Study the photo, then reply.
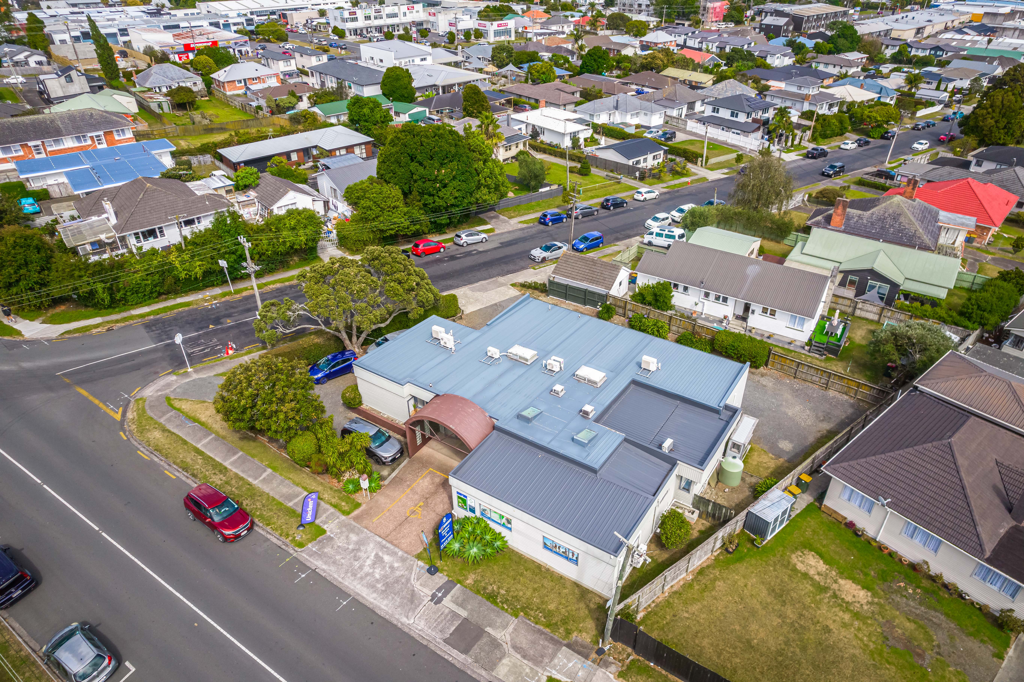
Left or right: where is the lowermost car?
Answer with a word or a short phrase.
left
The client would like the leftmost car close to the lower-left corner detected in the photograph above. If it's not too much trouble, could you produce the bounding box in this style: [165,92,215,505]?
[0,547,34,611]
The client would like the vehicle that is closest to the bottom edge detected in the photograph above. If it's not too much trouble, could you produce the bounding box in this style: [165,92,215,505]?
[42,624,121,682]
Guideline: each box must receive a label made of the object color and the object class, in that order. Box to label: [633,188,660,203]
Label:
white car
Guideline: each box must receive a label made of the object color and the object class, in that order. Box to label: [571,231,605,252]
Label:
blue car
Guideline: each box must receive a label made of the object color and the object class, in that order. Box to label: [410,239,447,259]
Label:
red car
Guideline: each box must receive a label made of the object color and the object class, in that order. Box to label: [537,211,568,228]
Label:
blue car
